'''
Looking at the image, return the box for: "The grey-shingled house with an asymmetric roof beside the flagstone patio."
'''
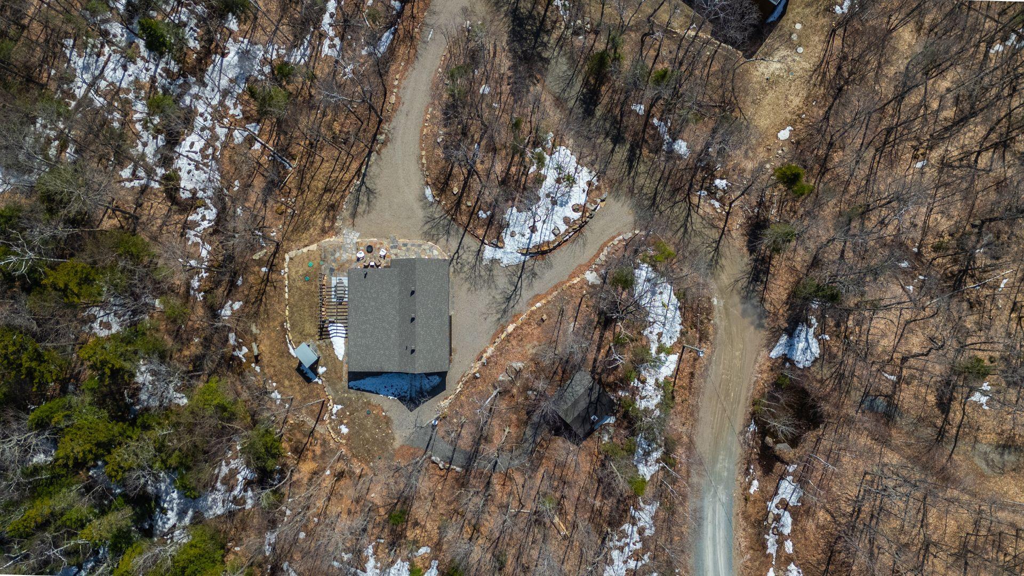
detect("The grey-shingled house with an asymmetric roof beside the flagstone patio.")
[347,257,450,377]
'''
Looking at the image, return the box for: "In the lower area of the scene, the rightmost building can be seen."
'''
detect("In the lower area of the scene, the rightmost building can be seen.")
[546,370,614,436]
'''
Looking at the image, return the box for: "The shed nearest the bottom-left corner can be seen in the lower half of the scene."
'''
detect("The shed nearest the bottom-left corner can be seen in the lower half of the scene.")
[294,342,323,367]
